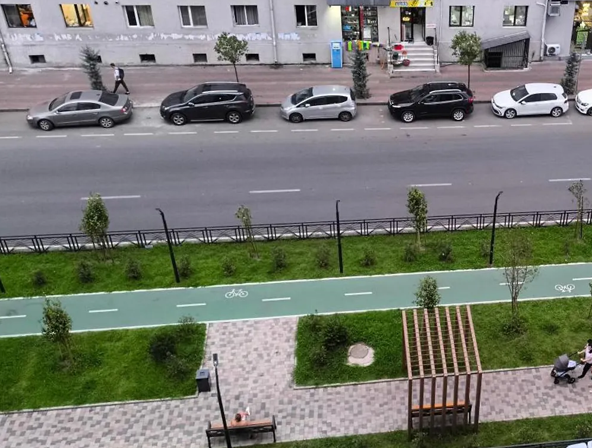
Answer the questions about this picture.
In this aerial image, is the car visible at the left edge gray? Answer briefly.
Yes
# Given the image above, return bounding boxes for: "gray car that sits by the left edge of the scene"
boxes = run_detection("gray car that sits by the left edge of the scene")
[22,88,132,130]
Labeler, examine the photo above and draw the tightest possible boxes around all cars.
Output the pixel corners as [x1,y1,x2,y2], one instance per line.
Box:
[572,87,592,116]
[158,80,255,126]
[279,83,357,122]
[387,79,477,122]
[22,88,132,130]
[490,81,572,119]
